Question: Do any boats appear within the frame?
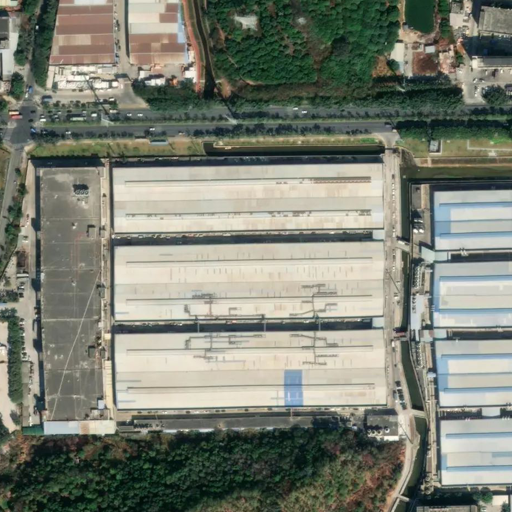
No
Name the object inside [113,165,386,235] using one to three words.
building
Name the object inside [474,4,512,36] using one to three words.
building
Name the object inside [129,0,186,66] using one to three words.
shed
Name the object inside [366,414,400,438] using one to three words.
house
